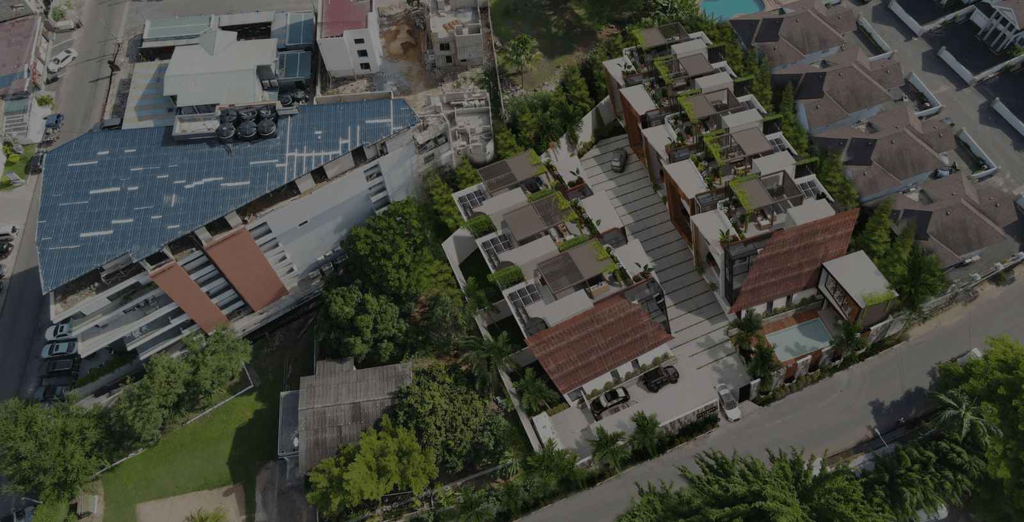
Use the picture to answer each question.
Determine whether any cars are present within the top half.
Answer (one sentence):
Yes, there is a car within the top half.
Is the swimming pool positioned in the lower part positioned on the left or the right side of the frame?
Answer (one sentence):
The swimming pool positioned in the lower part appears in the right half of the scene.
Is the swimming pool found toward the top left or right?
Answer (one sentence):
The swimming pool found toward the top sits on the right side.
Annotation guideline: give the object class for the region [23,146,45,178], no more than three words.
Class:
car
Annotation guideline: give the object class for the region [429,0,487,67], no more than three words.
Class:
house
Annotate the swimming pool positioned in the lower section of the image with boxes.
[757,307,860,370]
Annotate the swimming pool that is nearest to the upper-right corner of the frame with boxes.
[698,0,766,22]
